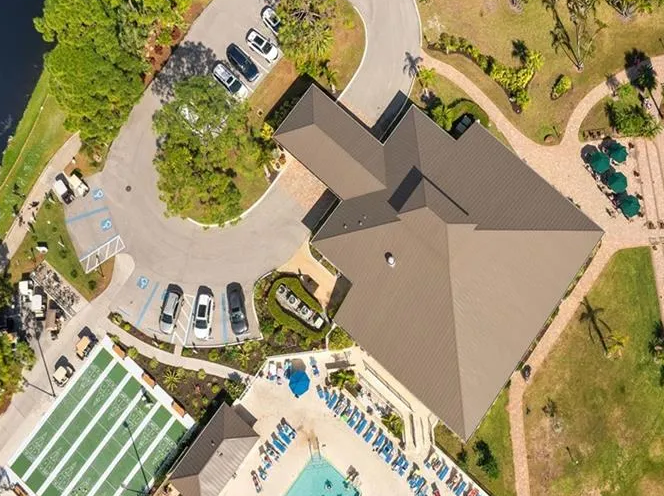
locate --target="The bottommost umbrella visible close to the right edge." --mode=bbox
[620,194,640,217]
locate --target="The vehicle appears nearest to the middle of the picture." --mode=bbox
[226,285,248,332]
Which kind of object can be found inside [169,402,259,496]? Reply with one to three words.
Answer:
shed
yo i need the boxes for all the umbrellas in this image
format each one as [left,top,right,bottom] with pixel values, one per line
[608,171,628,193]
[289,370,310,395]
[620,194,640,217]
[609,142,629,165]
[590,151,610,174]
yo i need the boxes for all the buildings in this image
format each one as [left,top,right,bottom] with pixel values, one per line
[273,83,603,442]
[169,402,259,496]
